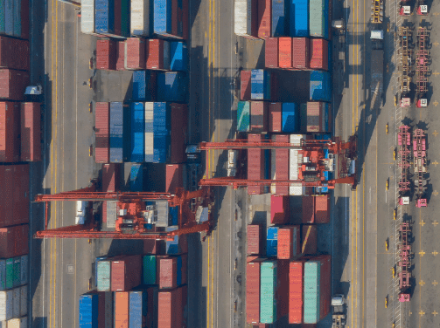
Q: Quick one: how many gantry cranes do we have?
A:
2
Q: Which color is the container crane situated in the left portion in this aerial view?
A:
red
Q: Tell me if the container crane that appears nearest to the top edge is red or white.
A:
red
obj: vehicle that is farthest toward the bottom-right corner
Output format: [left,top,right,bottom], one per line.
[398,276,410,303]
